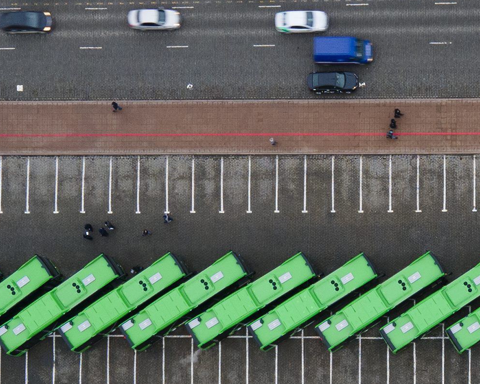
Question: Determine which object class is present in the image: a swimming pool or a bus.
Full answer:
The one in the frame is a bus.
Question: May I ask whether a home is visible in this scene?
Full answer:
No, the frame has no home in it.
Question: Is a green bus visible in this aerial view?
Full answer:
Yes, the picture does show a green bus.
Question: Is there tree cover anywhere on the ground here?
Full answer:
No, there's no tree cover in this view.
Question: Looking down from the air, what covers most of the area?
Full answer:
The scene is dominated by paved ground.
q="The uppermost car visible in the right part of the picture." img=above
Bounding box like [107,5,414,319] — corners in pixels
[276,8,329,37]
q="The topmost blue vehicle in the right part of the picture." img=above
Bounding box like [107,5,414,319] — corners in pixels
[313,37,374,68]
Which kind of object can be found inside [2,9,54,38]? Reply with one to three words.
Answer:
car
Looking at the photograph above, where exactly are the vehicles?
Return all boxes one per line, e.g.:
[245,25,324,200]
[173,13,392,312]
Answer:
[55,250,198,356]
[444,307,480,357]
[2,9,54,38]
[129,6,182,34]
[245,250,388,355]
[184,249,327,352]
[313,249,455,356]
[378,264,480,357]
[0,251,132,358]
[0,252,67,326]
[276,8,329,37]
[116,247,259,353]
[308,69,360,97]
[313,37,374,68]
